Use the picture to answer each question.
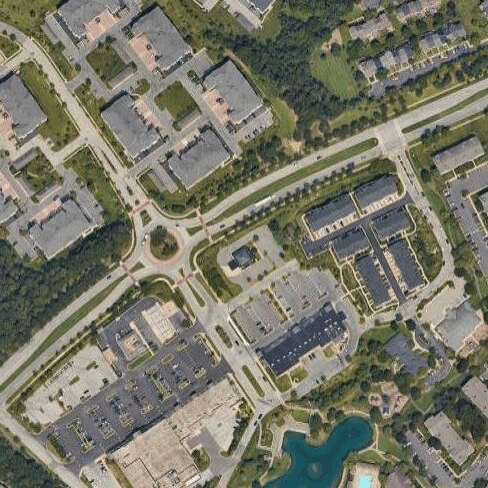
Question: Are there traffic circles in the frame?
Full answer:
Yes, I can see a traffic circle in this picture.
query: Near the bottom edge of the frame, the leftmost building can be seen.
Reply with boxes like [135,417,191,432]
[105,419,201,488]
